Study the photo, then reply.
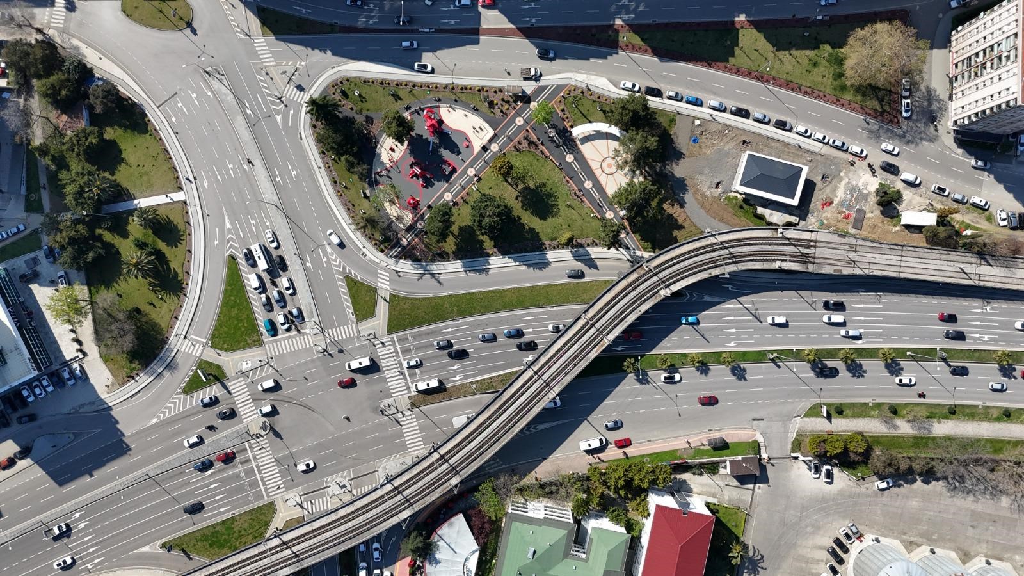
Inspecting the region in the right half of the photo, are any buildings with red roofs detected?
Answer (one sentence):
Yes, looking in the right half of the photo, one can make out a building with a red roof.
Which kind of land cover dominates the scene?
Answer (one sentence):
The bulk of the photo consists of paved ground.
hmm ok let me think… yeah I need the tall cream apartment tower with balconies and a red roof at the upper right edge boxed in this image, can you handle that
[949,0,1024,152]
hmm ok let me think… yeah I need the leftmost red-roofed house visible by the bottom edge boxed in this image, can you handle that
[633,485,716,576]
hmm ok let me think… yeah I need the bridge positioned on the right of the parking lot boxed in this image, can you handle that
[178,228,1024,576]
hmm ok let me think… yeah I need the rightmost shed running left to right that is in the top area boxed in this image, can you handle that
[896,212,937,225]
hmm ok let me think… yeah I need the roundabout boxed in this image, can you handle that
[121,0,193,31]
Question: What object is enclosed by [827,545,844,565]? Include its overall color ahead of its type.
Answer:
black car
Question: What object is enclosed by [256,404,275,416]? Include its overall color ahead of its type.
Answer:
white vehicle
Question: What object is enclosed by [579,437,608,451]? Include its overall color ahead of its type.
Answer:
white vehicle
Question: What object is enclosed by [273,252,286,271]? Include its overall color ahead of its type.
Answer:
black vehicle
